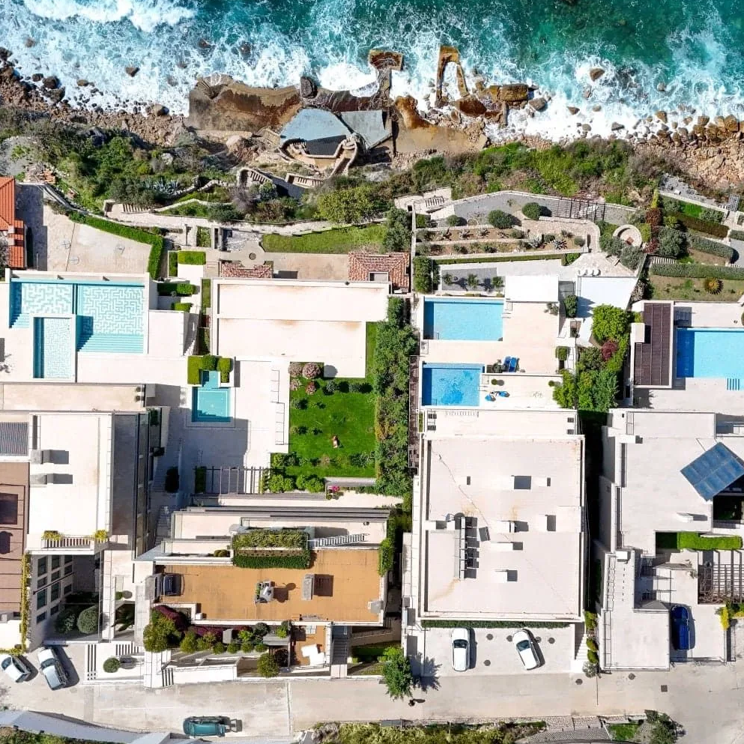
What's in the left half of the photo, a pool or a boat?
pool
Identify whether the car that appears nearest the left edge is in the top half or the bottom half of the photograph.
bottom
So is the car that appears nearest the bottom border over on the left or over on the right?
left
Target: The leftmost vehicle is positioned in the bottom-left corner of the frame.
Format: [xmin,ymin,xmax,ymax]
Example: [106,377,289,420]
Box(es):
[0,652,36,687]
